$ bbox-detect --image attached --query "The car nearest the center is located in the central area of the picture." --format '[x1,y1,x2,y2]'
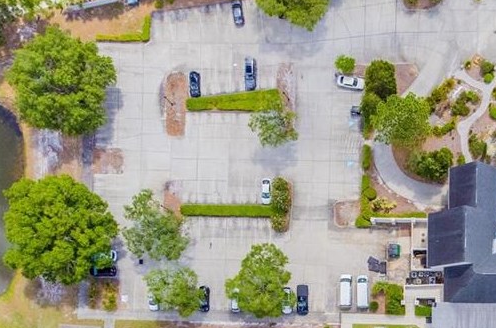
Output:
[259,179,272,204]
